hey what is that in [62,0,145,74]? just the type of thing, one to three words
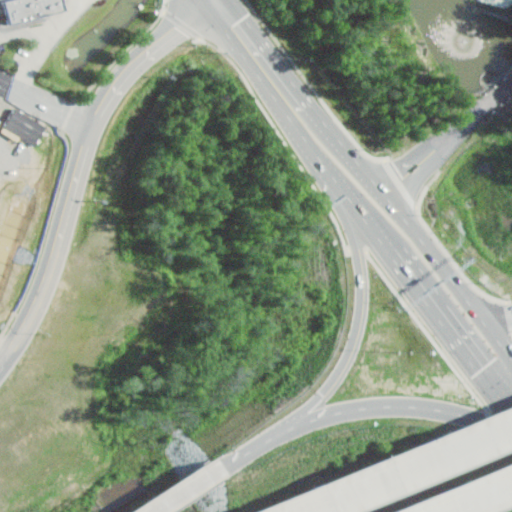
pond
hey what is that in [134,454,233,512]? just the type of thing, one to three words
bridge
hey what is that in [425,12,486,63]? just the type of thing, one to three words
fountain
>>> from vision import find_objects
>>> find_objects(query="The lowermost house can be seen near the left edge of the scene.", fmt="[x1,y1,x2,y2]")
[4,108,45,146]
